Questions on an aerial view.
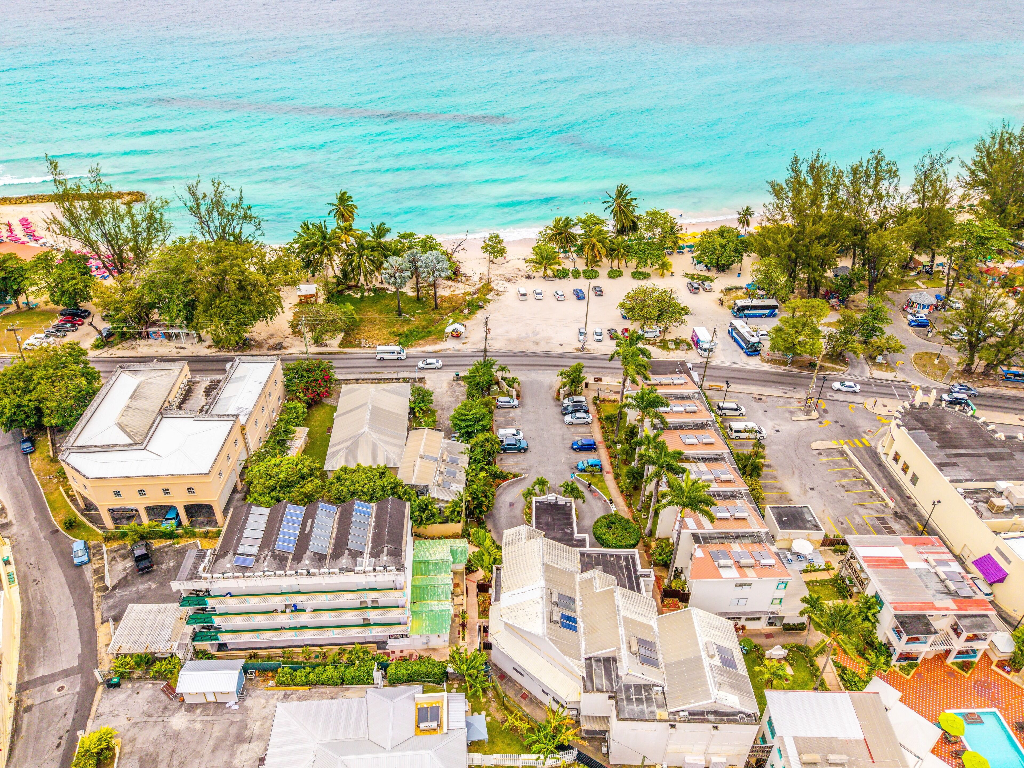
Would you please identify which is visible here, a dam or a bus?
bus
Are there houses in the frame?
Yes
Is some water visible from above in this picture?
Yes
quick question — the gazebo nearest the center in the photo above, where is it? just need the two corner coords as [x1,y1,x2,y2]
[445,323,467,342]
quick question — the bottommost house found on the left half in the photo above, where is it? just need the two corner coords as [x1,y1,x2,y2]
[264,684,468,768]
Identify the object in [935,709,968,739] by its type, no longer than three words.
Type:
umbrella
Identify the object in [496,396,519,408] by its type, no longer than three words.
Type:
vehicle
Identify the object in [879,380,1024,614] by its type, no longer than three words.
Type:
building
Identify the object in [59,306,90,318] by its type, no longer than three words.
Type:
vehicle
